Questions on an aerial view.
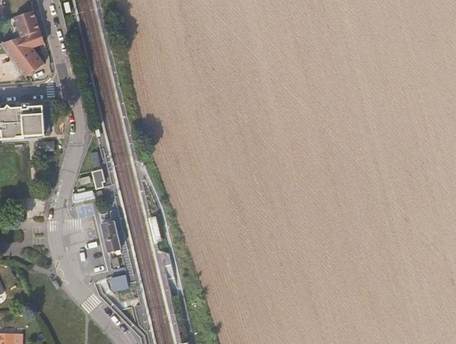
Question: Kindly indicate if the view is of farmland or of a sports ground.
farmland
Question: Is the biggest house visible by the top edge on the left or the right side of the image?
left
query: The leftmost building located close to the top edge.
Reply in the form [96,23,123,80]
[0,10,43,78]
